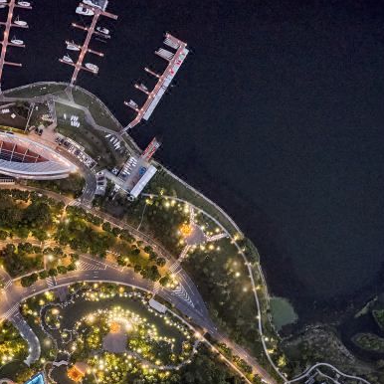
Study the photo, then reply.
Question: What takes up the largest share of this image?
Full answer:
For the most part, this view shows water.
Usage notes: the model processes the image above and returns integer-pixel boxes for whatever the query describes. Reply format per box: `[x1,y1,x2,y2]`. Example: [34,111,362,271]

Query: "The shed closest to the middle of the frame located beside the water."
[129,166,157,199]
